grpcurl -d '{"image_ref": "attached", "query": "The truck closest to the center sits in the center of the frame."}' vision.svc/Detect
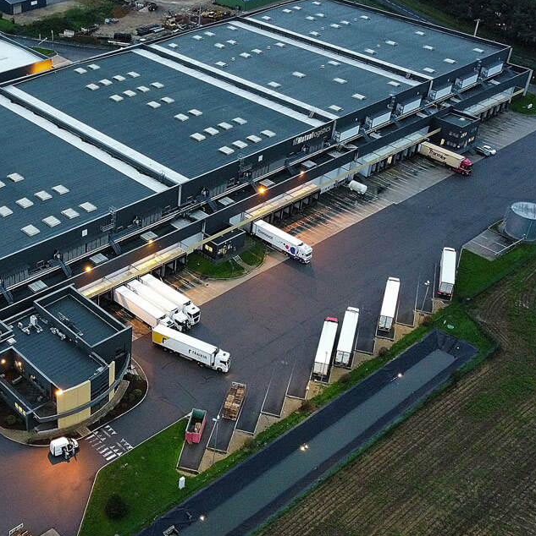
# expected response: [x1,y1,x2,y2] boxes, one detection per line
[253,219,313,263]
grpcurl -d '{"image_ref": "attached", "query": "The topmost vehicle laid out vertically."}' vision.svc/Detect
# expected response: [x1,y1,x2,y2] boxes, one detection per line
[438,248,455,297]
